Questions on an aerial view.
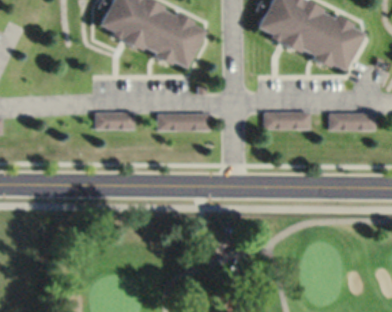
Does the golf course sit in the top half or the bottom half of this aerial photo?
bottom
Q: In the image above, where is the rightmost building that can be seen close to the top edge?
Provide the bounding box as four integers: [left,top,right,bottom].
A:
[258,0,364,75]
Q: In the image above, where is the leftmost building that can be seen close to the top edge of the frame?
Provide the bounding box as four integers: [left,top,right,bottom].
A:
[102,0,208,70]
